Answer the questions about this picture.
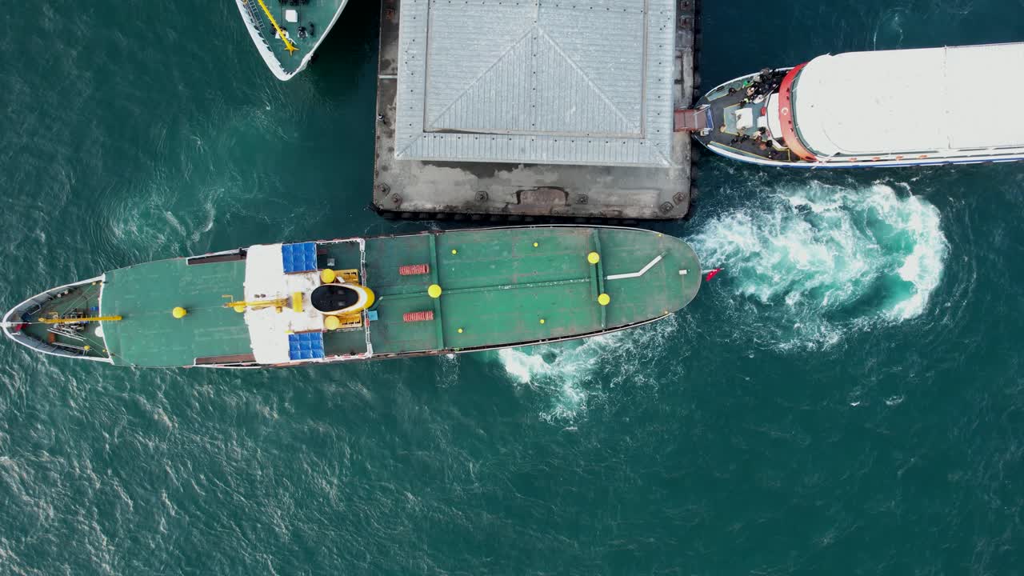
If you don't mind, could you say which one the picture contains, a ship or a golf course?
ship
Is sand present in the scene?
No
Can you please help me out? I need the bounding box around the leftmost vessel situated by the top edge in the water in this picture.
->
[235,0,353,82]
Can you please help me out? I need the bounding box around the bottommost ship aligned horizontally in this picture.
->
[0,224,724,370]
